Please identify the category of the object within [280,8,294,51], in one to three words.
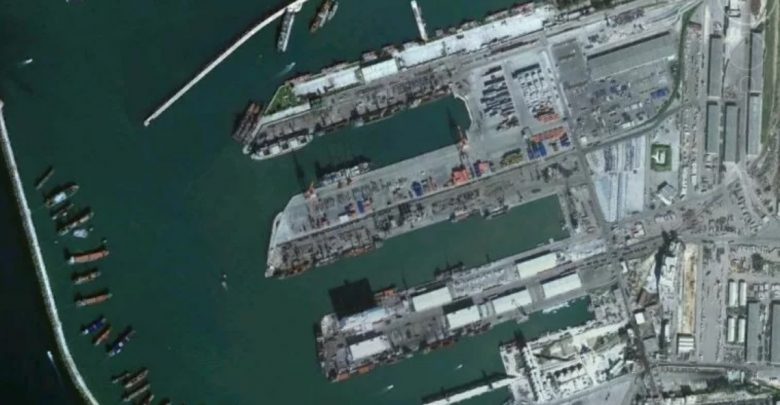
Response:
ship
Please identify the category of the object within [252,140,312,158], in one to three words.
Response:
ship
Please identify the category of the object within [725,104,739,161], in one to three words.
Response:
building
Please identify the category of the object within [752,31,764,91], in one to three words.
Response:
building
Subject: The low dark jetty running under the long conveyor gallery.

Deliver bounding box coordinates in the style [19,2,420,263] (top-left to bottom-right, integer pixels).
[404,372,508,405]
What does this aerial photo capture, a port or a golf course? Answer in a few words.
port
